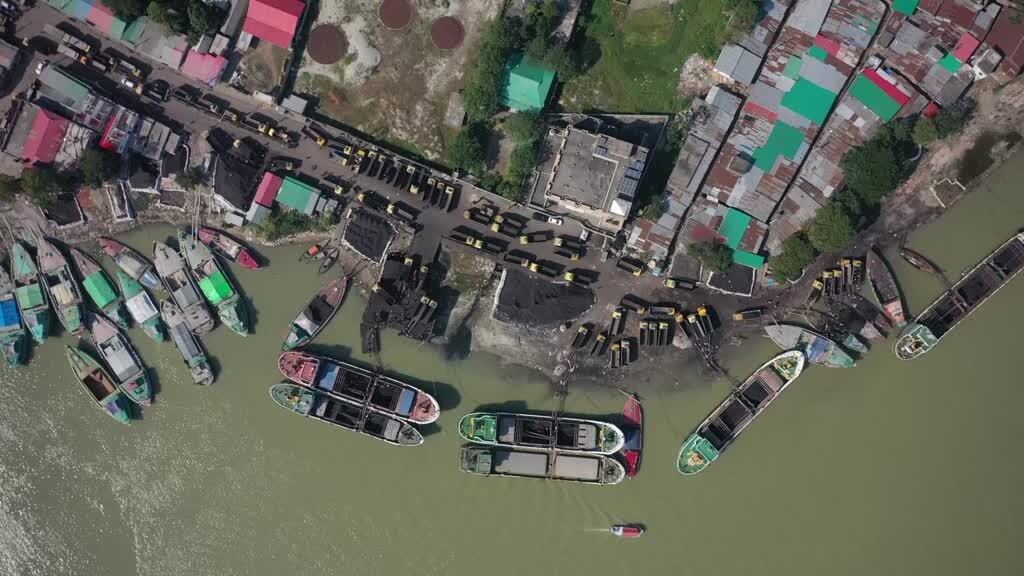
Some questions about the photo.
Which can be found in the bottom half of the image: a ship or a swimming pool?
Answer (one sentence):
Looking in the bottom half of the image, you will find a ship.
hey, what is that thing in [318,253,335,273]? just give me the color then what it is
gray boat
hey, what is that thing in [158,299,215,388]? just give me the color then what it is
gray boat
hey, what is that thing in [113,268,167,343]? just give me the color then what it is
white boat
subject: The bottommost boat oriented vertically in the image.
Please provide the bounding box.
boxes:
[620,394,643,479]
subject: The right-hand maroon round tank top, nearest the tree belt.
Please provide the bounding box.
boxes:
[430,16,464,51]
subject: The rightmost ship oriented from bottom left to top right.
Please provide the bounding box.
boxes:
[890,228,1024,356]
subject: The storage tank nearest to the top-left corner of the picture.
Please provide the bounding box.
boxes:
[307,23,349,65]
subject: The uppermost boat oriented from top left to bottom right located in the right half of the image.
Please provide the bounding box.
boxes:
[898,247,943,274]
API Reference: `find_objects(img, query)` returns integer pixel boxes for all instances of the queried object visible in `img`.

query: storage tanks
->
[307,23,349,65]
[379,0,414,29]
[430,16,464,51]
